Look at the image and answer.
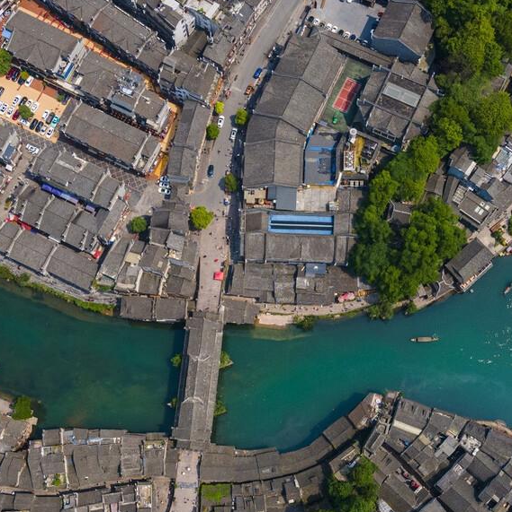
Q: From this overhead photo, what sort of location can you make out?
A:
residential area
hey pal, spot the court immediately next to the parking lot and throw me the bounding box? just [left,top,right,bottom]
[318,57,369,127]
